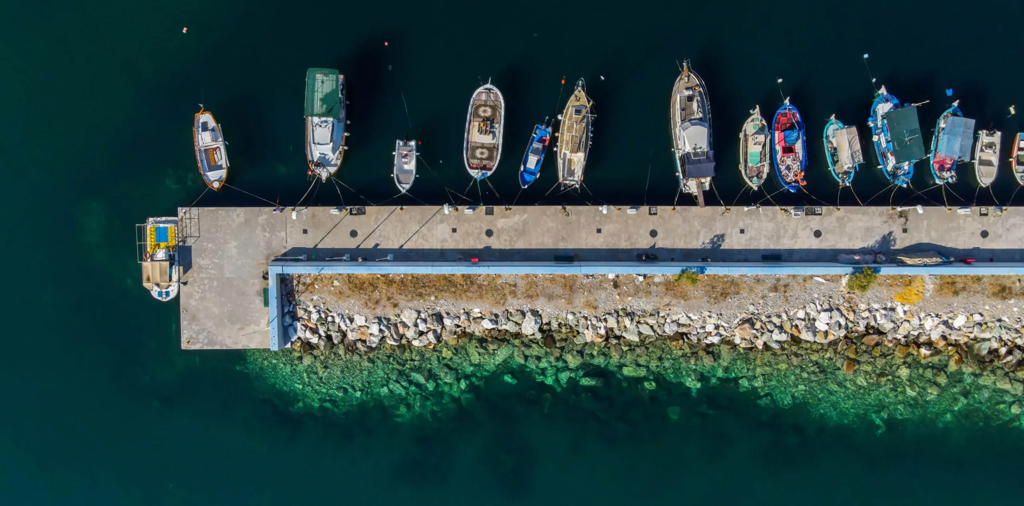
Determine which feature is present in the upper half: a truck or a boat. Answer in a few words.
boat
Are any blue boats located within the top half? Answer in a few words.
Yes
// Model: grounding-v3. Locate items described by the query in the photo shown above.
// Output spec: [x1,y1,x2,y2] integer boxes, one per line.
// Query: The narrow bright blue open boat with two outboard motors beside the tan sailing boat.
[520,116,553,189]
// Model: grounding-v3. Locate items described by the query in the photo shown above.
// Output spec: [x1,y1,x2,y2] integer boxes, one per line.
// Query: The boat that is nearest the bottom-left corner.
[136,217,180,301]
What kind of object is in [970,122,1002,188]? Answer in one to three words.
boat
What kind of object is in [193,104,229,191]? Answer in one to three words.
boat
